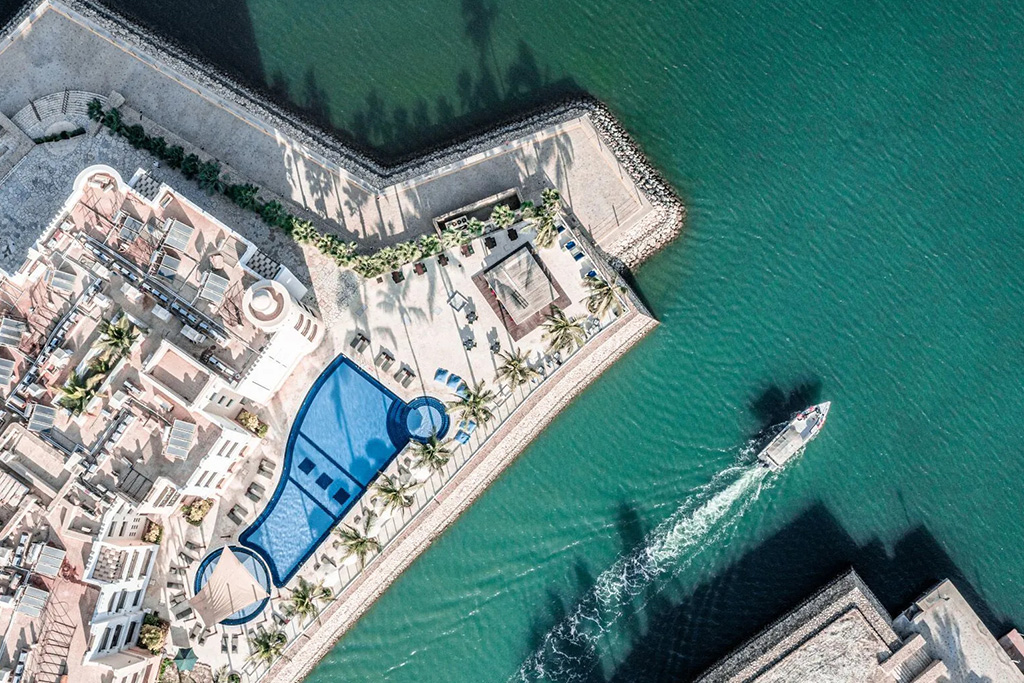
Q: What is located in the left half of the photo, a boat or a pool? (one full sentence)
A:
The feature located in the left half of the photo is a pool.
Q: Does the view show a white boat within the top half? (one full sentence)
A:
No, within the top half there is no white boat.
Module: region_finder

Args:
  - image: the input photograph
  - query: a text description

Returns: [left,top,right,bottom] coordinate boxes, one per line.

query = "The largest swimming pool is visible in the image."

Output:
[238,350,453,592]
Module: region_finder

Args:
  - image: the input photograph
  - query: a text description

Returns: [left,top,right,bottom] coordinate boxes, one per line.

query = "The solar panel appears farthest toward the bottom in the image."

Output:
[12,585,54,617]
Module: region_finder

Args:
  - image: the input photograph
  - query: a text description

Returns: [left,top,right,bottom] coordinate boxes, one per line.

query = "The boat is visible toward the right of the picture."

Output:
[758,401,831,472]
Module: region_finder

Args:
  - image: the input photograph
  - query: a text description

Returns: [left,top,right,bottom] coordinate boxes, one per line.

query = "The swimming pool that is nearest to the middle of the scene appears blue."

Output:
[403,397,451,444]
